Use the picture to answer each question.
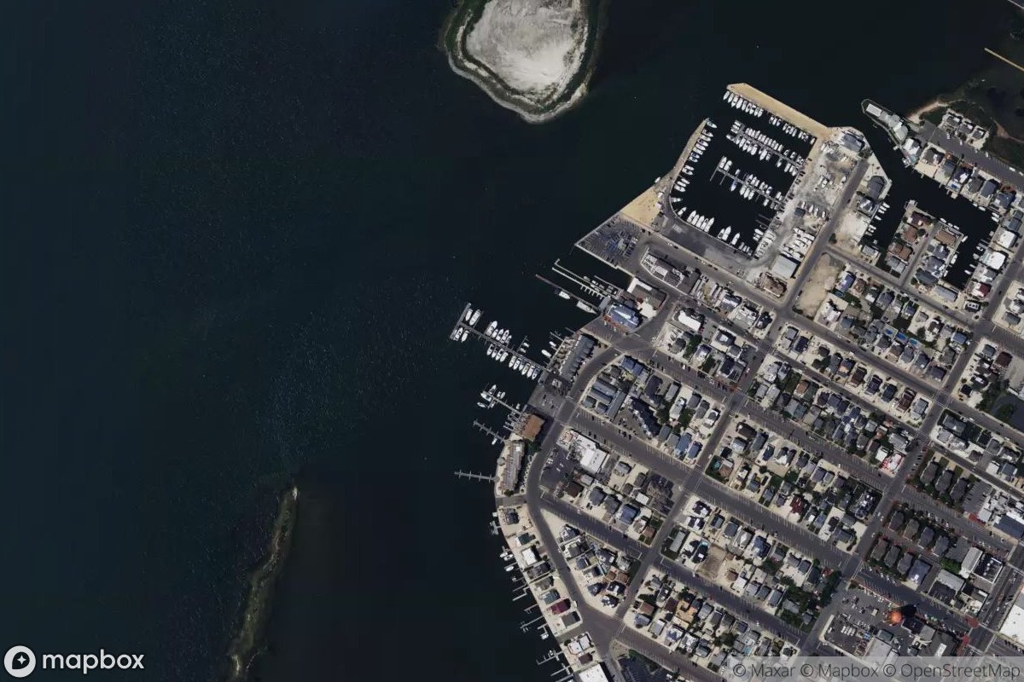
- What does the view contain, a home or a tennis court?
home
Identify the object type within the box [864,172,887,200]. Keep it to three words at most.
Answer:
house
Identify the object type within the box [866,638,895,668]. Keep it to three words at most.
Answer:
building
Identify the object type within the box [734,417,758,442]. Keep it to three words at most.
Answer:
house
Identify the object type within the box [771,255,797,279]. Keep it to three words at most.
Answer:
shed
